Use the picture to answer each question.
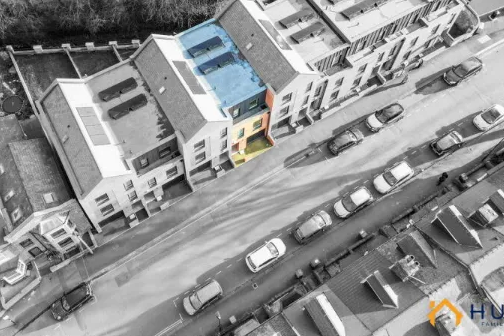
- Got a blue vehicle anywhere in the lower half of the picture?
No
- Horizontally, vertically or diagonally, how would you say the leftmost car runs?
diagonally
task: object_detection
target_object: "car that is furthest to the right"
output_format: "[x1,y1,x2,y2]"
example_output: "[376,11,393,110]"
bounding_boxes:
[472,103,504,130]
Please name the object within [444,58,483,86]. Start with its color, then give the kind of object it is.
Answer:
gray car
